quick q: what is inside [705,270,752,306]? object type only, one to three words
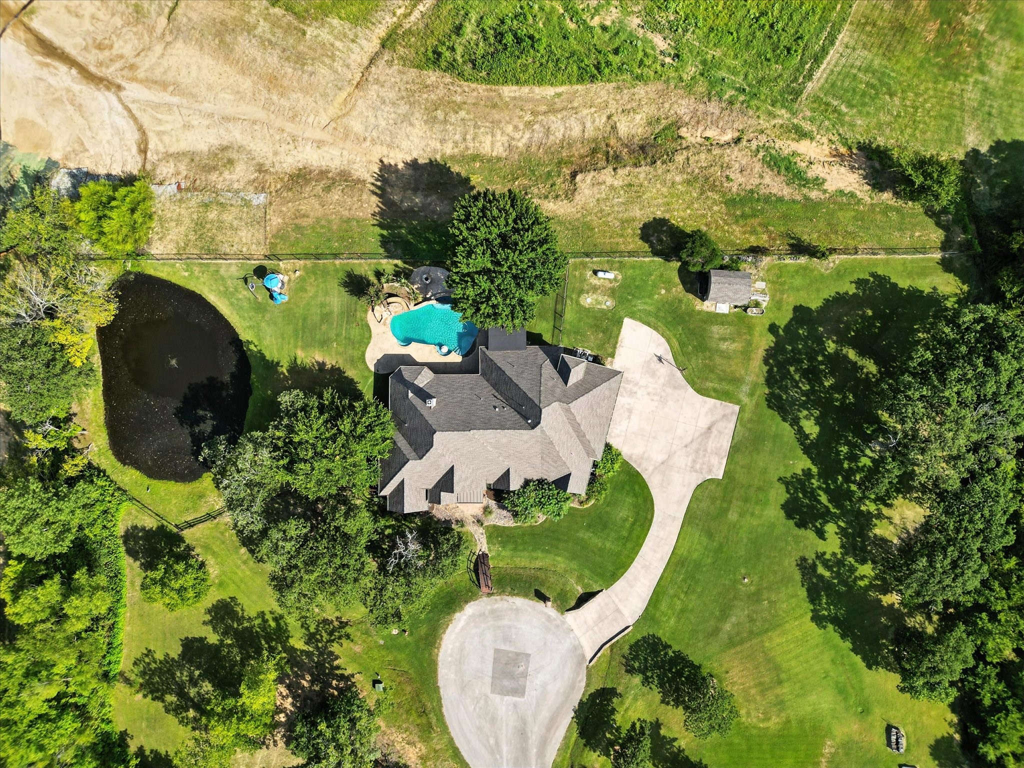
shed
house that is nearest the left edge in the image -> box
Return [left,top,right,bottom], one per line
[378,327,624,513]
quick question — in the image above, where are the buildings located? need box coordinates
[378,327,624,513]
[705,270,752,306]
